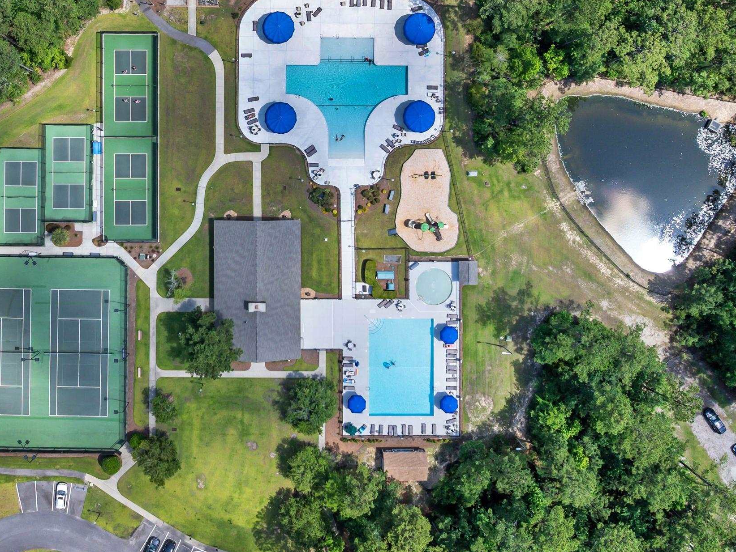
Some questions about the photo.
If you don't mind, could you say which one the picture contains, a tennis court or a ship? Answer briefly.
tennis court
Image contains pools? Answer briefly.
Yes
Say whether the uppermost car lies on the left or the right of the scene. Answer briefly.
right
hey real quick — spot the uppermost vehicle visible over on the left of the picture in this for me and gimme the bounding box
[55,482,69,508]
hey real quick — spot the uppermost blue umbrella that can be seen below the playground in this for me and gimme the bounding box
[440,327,457,343]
